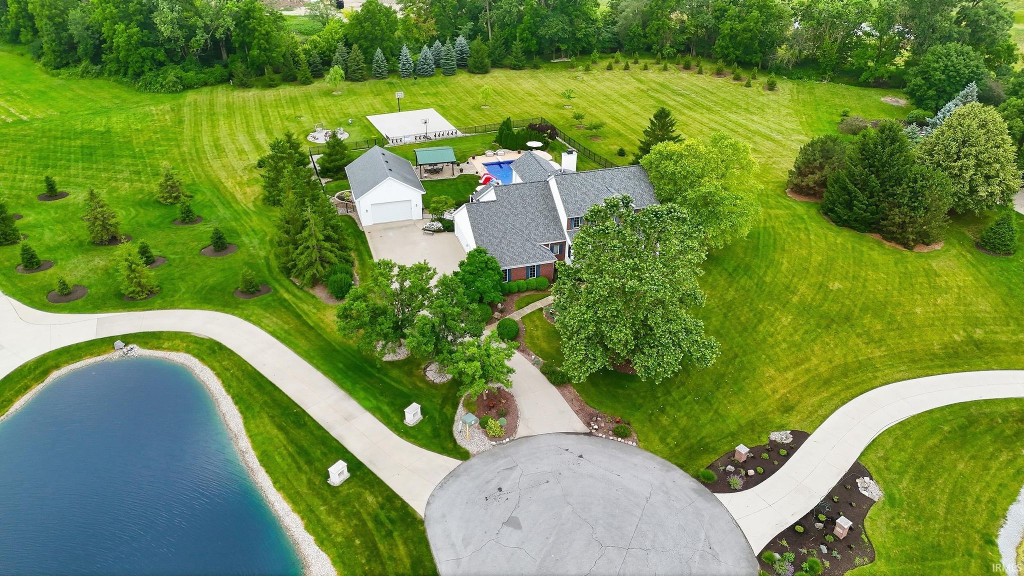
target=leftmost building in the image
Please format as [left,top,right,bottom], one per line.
[347,143,425,226]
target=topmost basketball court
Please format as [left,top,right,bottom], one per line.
[366,108,463,144]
